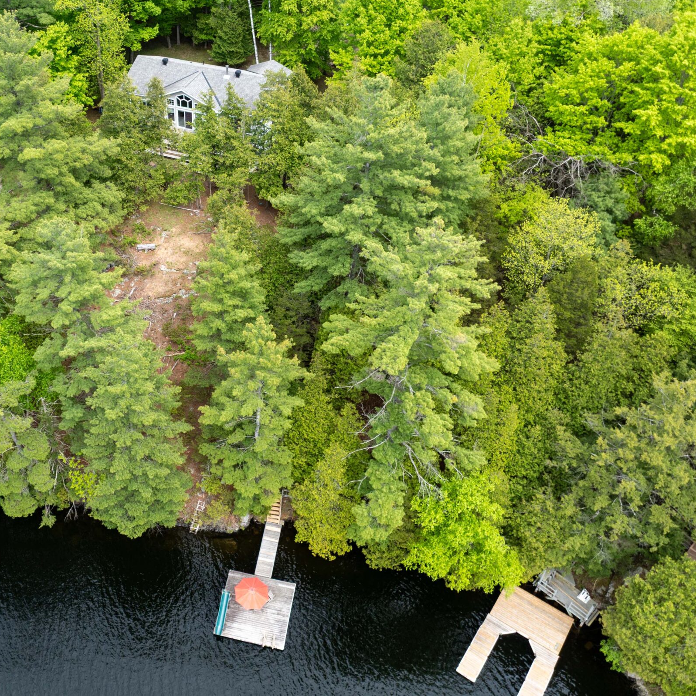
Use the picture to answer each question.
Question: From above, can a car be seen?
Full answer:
No, I can see no car in this picture.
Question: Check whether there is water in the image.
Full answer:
Yes, there is water in the image.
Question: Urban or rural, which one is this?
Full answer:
From above, the setting appears rural.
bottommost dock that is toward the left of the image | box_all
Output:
[215,570,295,654]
